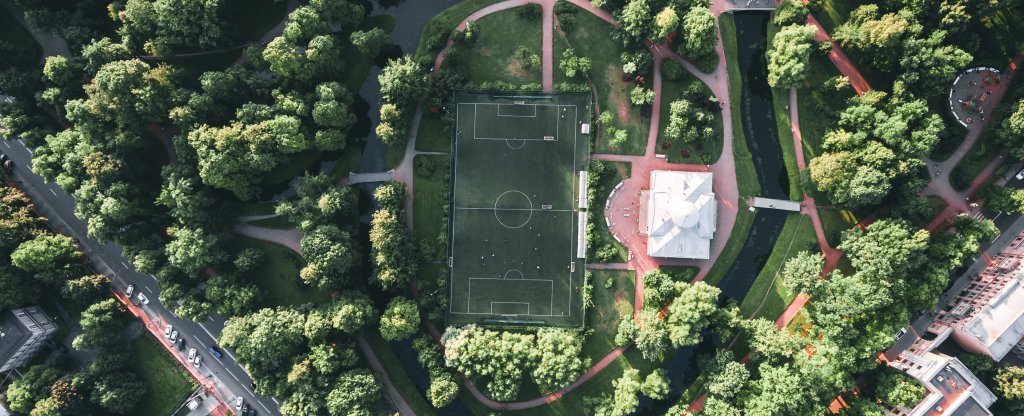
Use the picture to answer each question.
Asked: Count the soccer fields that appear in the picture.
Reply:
1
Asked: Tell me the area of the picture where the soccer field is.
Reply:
center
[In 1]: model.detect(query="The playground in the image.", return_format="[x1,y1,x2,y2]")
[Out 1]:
[950,69,1004,124]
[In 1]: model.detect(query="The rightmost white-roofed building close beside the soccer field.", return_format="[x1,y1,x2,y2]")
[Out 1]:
[632,168,717,261]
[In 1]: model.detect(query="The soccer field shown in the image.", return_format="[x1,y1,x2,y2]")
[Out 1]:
[446,91,592,327]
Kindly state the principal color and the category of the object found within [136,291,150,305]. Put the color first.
white car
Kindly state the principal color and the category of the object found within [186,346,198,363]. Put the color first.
white vehicle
